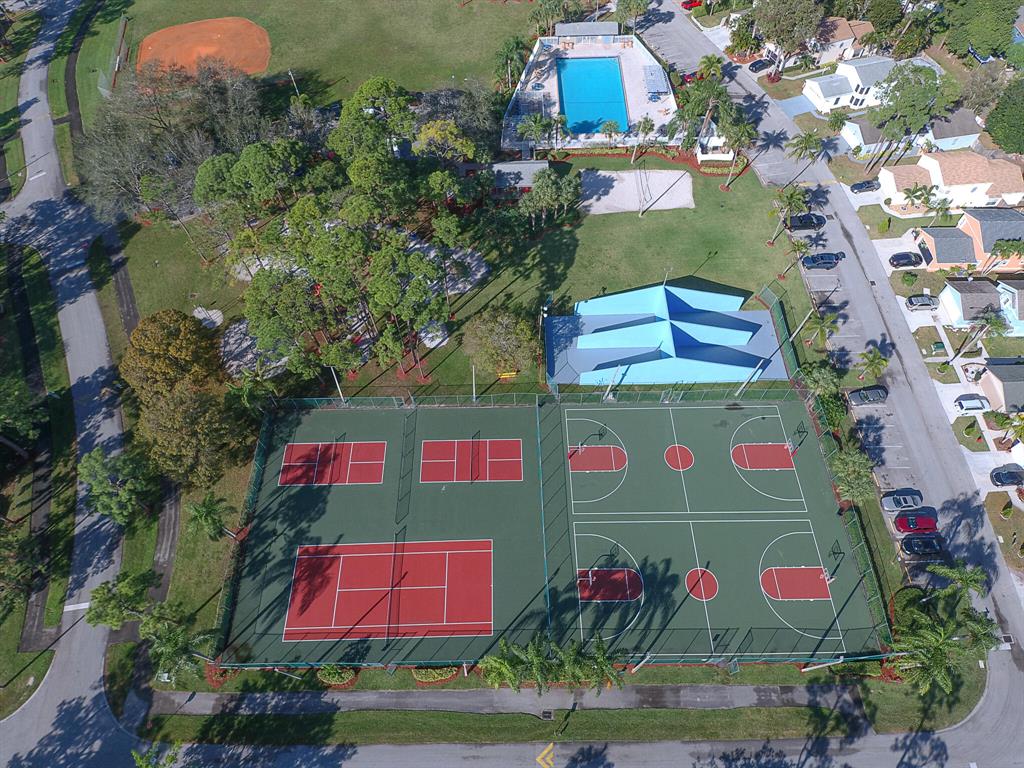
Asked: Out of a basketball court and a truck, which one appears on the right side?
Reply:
basketball court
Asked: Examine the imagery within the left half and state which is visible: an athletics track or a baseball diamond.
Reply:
baseball diamond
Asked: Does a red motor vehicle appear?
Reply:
Yes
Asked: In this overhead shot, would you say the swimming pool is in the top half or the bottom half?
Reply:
top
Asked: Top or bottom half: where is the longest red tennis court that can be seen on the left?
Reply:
bottom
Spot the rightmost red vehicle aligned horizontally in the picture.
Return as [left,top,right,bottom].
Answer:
[896,513,944,534]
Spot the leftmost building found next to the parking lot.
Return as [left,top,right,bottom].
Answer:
[555,21,620,44]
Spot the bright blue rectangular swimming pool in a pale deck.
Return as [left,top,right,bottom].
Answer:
[502,42,679,151]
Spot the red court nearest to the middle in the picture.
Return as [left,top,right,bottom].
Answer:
[420,436,525,484]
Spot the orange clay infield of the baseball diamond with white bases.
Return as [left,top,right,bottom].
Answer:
[135,17,273,113]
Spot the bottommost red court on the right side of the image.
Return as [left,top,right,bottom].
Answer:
[572,519,846,655]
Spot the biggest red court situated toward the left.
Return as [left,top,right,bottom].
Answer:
[283,533,492,647]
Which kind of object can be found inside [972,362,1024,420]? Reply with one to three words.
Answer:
house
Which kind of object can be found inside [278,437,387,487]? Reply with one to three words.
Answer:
sports court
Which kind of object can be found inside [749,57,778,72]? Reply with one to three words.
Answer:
car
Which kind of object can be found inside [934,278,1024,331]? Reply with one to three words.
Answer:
house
